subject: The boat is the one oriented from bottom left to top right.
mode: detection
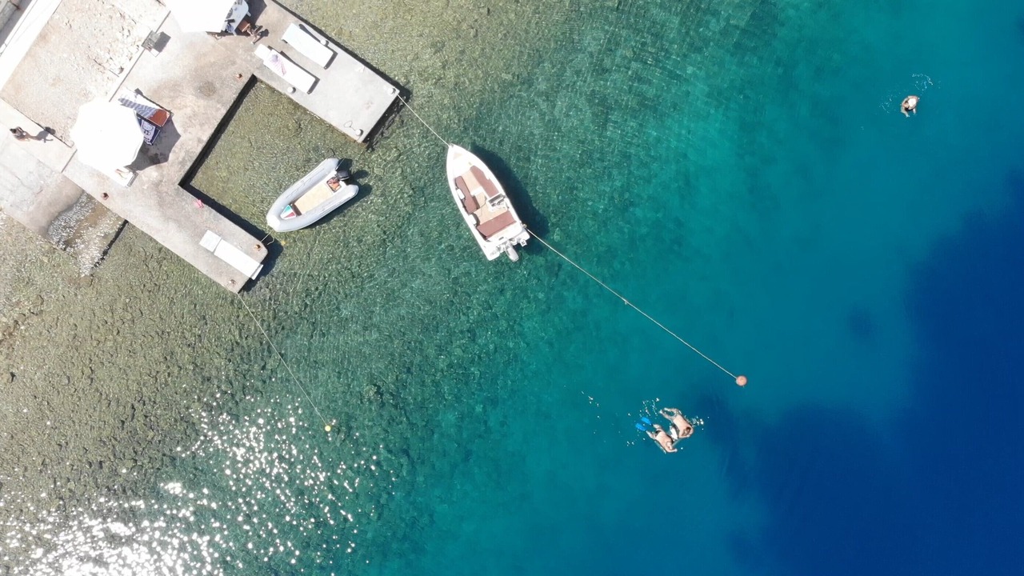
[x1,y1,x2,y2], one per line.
[262,154,363,234]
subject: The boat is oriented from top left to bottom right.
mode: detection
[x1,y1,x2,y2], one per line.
[446,144,530,261]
